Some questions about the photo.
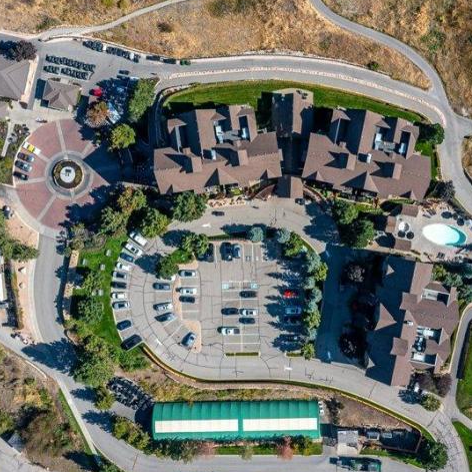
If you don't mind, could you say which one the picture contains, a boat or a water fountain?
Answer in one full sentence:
Visible in the photo is a water fountain.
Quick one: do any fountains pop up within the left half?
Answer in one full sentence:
Yes, there is a fountain within the left half.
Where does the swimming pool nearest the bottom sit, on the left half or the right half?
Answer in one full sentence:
It is on the right.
